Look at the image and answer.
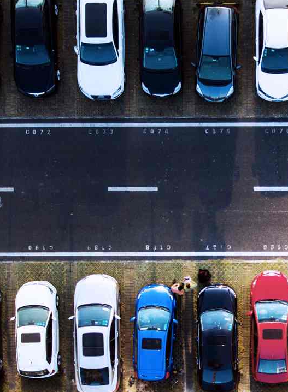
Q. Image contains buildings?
No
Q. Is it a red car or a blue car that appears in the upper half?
blue car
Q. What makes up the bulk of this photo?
paved ground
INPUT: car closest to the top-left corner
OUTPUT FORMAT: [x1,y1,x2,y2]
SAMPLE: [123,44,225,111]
[4,0,59,98]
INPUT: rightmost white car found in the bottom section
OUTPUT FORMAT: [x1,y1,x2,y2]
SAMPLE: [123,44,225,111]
[68,274,121,392]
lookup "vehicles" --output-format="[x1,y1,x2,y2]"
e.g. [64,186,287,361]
[69,0,124,101]
[4,0,59,98]
[127,284,176,381]
[133,0,182,97]
[6,282,60,378]
[68,274,121,392]
[192,285,241,391]
[246,270,288,383]
[252,0,288,101]
[192,4,240,103]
